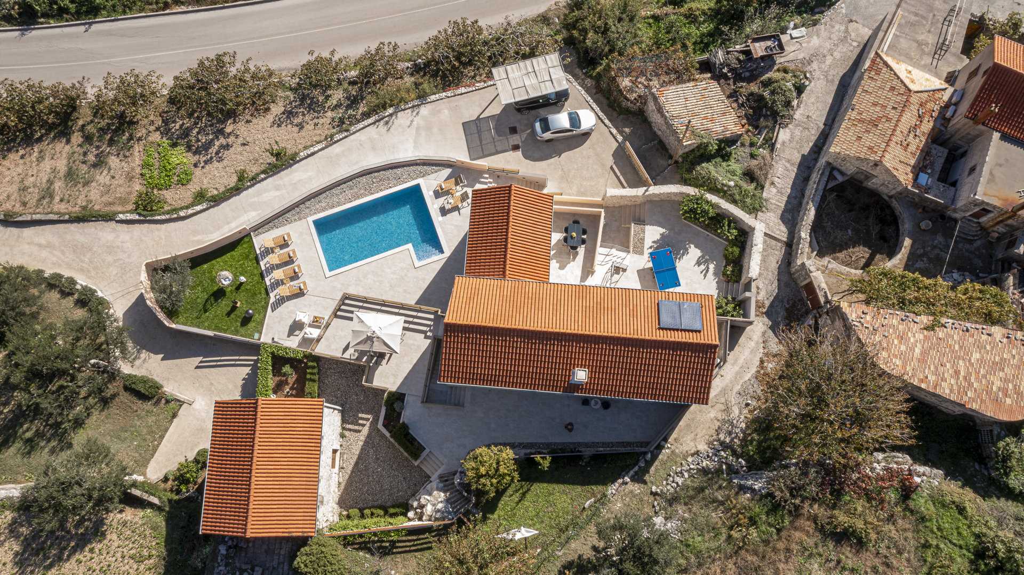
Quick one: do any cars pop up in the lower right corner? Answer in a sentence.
No, in the lower right corner there is no car.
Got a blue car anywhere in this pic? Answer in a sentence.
No, there appears to be no blue car in this shot.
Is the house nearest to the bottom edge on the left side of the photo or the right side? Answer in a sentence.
You can find the house nearest to the bottom edge on the left side of the picture.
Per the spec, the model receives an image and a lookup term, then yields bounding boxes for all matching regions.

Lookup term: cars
[508,79,578,120]
[529,109,602,150]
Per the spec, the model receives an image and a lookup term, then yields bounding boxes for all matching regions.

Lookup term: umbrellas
[498,529,538,547]
[350,312,404,353]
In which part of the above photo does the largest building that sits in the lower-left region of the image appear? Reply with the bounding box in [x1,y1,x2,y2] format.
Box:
[199,398,340,537]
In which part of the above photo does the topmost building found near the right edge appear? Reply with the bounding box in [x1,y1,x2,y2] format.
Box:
[882,0,973,84]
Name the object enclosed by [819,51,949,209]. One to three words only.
house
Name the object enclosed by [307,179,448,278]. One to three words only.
swimming pool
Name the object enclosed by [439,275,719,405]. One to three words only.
house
